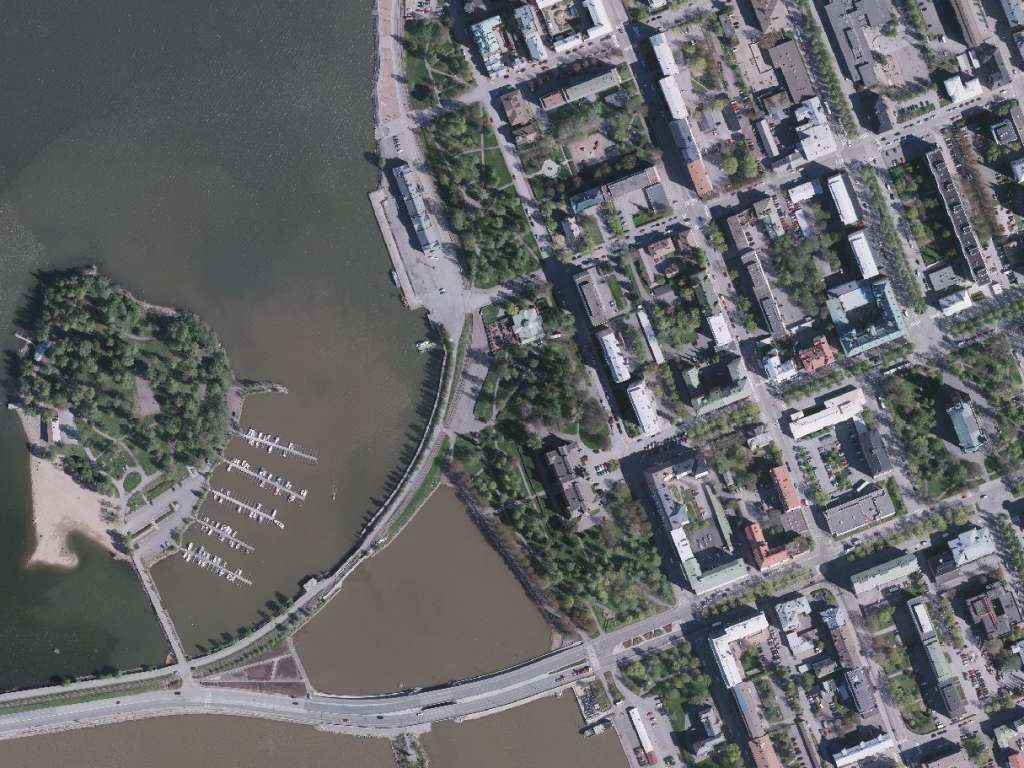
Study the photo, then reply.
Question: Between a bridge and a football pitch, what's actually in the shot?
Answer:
bridge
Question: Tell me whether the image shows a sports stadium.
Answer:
No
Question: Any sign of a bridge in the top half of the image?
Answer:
No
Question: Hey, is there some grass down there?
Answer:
Yes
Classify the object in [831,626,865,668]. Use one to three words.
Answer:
building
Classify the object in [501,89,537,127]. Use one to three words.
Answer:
house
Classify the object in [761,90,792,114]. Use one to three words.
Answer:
shed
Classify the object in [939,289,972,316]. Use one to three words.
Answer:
house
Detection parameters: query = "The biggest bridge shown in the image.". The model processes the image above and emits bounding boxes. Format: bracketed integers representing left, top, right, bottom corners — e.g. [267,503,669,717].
[421,644,591,725]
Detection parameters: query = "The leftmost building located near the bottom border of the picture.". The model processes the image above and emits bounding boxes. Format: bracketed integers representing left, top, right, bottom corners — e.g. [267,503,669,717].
[630,708,658,765]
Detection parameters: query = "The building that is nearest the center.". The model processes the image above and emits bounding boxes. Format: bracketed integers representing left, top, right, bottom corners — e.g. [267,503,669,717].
[513,308,544,344]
